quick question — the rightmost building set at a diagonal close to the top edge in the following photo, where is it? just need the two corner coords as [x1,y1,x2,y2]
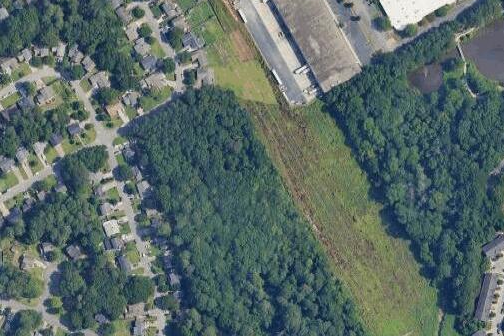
[273,0,361,88]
